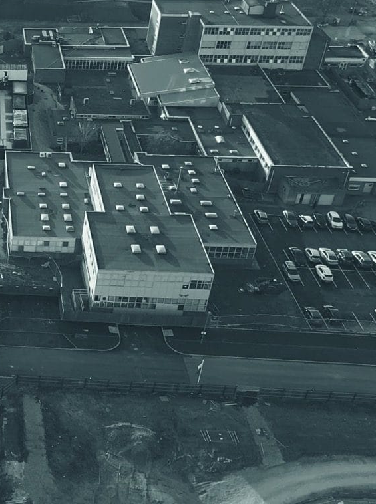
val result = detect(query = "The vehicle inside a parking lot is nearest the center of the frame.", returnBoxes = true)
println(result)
[254,209,269,224]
